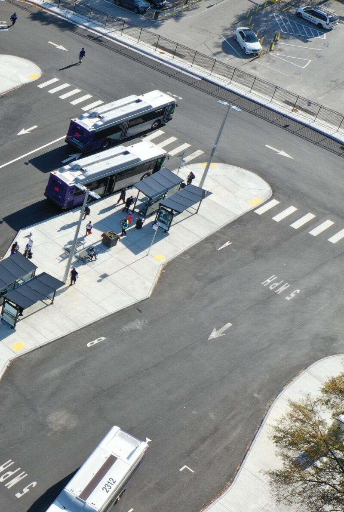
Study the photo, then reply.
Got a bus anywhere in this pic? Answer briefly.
Yes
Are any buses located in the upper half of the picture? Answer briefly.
Yes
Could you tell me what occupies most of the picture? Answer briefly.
paved ground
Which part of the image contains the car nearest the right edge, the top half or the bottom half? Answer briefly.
top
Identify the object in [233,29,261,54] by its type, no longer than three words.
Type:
car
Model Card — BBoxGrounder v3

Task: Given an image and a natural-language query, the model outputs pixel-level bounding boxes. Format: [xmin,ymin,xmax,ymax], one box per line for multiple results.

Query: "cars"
[297,3,341,29]
[112,0,153,13]
[146,0,169,9]
[233,29,261,54]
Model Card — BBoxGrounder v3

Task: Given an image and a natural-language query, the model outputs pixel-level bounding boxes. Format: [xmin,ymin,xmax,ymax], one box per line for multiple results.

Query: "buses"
[45,427,154,512]
[43,138,170,211]
[63,89,178,154]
